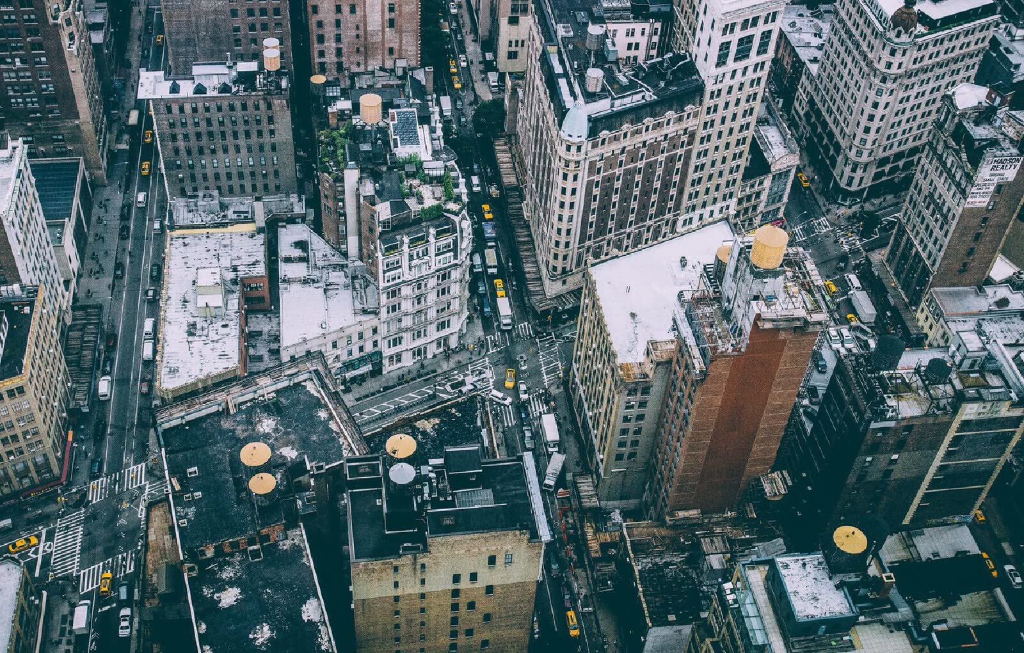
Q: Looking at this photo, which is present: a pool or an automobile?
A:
automobile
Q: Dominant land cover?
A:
buildings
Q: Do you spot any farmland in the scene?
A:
No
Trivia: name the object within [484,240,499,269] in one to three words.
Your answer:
vehicle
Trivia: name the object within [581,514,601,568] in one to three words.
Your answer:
shed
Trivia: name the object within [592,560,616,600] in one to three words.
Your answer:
shed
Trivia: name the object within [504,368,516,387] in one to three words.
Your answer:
vehicle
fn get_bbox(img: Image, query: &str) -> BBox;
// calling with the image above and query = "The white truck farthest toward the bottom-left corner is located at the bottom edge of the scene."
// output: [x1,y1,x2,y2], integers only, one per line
[68,598,90,633]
